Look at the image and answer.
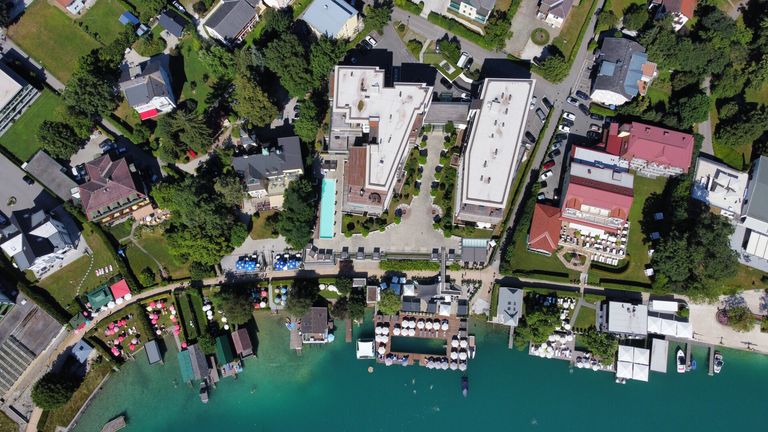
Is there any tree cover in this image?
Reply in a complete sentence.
Yes, there is tree cover in the image.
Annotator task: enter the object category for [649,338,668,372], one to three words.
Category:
shed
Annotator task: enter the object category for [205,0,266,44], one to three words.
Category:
house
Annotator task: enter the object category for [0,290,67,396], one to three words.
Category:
building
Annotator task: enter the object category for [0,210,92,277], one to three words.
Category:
house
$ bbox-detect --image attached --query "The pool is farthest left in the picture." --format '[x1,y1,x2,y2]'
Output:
[318,177,336,238]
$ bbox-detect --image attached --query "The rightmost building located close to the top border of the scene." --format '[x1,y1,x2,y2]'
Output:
[645,0,694,31]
